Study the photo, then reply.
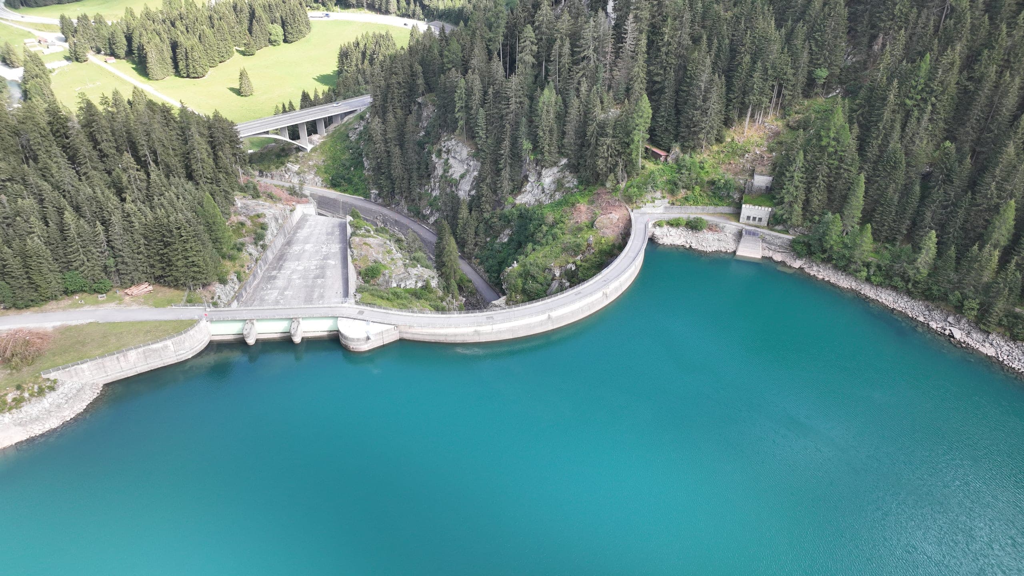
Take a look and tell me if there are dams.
Yes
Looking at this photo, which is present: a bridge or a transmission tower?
bridge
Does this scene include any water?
Yes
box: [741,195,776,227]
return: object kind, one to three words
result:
building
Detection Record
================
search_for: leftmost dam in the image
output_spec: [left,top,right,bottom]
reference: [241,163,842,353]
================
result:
[205,301,355,346]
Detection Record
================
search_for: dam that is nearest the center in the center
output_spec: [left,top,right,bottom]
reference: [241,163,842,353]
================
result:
[348,210,655,345]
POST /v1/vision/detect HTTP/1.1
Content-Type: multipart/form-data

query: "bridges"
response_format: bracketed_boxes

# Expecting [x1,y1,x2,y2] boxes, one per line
[224,89,376,152]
